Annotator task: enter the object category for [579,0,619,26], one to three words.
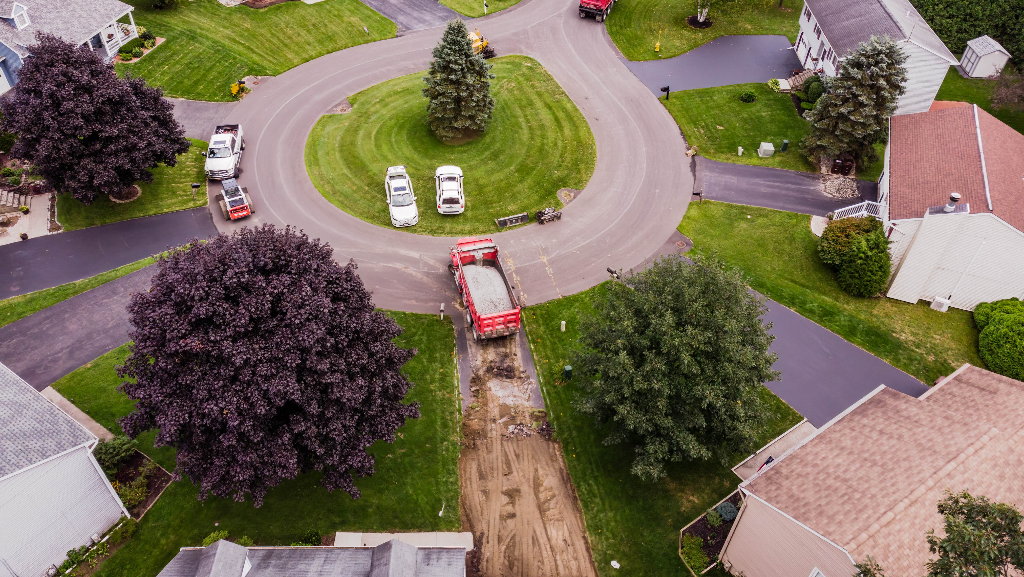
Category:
truck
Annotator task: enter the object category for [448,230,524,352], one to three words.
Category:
truck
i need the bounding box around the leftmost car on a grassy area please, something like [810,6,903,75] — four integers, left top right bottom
[385,166,419,228]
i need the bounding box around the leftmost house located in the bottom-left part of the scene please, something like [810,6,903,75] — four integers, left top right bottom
[0,358,127,577]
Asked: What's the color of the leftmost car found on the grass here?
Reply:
white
